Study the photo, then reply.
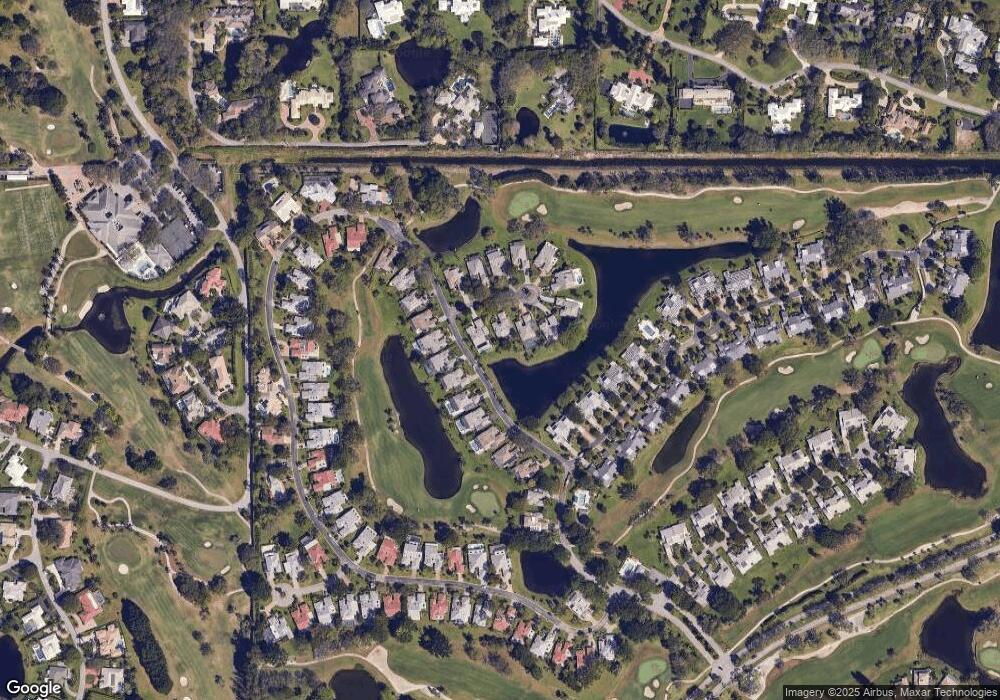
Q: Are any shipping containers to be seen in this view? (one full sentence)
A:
No, there is no shipping container in the image.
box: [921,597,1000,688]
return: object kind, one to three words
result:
pond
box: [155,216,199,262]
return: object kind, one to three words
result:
building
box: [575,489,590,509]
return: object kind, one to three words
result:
swimming pool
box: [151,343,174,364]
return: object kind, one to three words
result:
house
